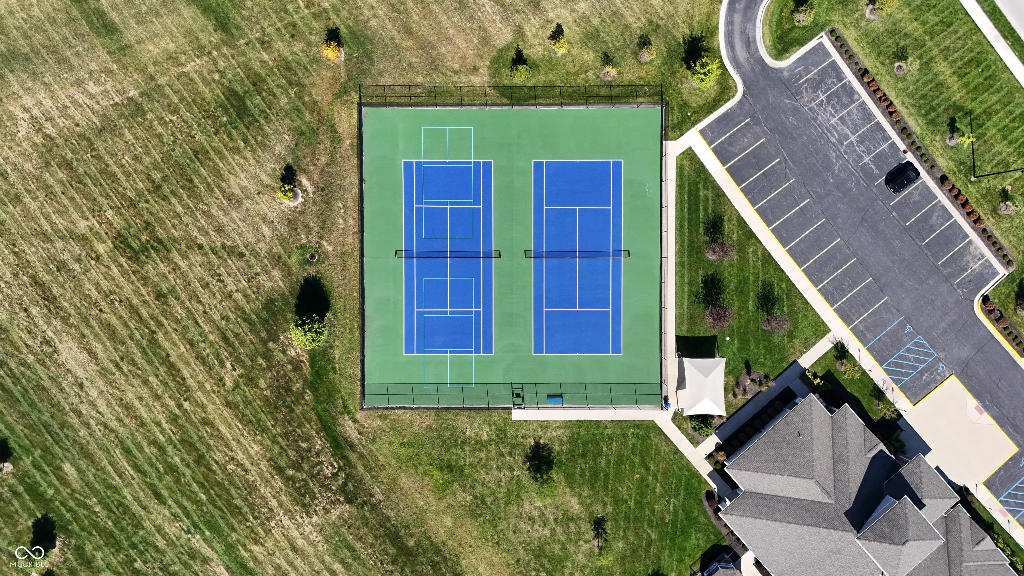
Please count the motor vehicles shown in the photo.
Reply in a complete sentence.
The photo contains exactly 1 motor vehicle.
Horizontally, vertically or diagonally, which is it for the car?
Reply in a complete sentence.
I'd say the car is aligned diagonally in the picture.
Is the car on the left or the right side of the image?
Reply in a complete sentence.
The car sits on the right side.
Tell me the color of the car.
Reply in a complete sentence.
The car looks black in the image.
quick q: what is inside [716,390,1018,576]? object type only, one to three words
building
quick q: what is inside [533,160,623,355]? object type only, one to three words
tennis court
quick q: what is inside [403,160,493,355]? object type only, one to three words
tennis court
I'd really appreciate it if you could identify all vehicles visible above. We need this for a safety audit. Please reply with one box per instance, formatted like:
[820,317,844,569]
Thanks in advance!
[885,165,922,196]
